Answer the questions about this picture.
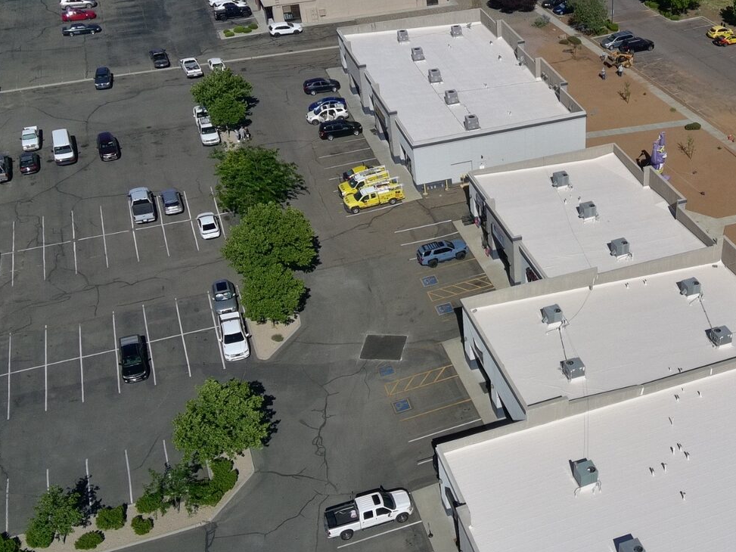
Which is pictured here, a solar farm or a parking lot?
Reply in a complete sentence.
The area seen from above is a parking lot.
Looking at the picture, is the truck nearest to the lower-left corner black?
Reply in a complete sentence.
Yes, the truck nearest to the lower-left corner is indeed black.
